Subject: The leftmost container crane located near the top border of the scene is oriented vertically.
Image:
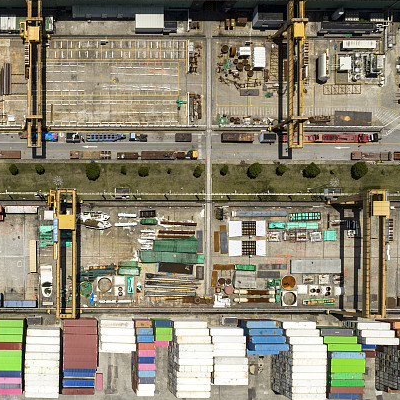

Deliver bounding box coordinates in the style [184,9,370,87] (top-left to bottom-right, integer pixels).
[20,4,50,149]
